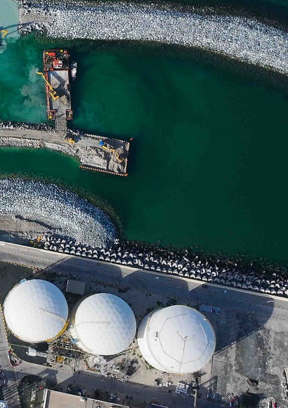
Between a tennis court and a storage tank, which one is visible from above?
storage tank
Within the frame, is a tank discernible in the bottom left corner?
Yes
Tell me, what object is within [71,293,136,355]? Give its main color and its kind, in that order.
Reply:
white storage tank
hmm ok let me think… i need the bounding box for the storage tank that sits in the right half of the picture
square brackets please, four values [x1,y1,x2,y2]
[137,305,216,374]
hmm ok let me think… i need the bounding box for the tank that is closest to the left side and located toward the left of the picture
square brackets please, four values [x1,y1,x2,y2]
[2,278,69,345]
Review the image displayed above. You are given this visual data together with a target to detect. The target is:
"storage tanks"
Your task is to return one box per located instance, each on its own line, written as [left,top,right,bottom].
[71,293,136,355]
[137,305,216,374]
[2,278,69,345]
